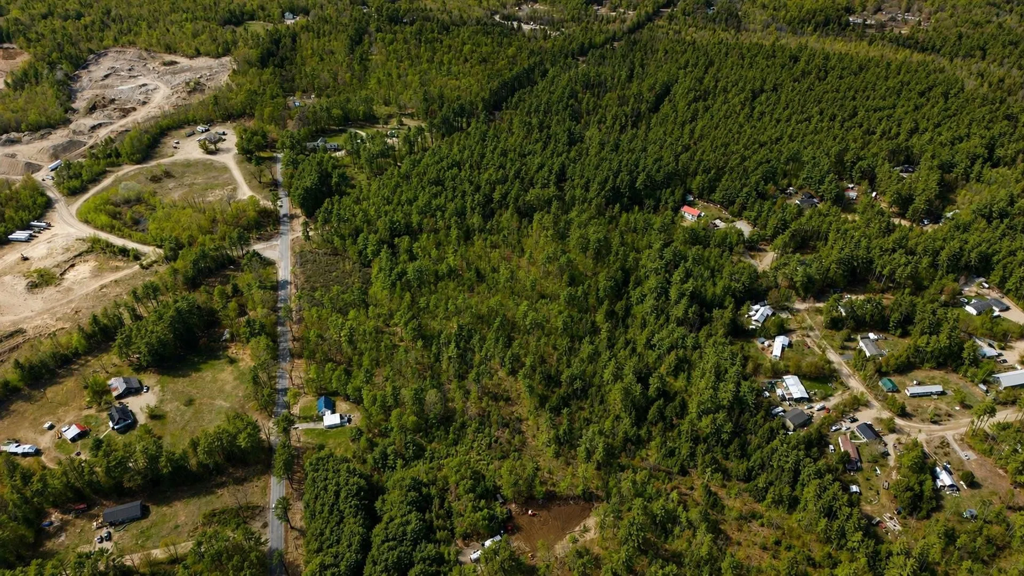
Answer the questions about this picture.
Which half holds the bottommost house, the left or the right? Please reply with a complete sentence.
The bottommost house appears in the left half of the scene.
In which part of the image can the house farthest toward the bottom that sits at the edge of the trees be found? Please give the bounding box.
[94,497,145,532]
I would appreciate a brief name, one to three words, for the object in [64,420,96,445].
house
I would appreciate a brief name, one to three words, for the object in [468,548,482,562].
vehicle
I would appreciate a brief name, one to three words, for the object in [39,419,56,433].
vehicle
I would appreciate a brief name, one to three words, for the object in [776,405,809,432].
building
